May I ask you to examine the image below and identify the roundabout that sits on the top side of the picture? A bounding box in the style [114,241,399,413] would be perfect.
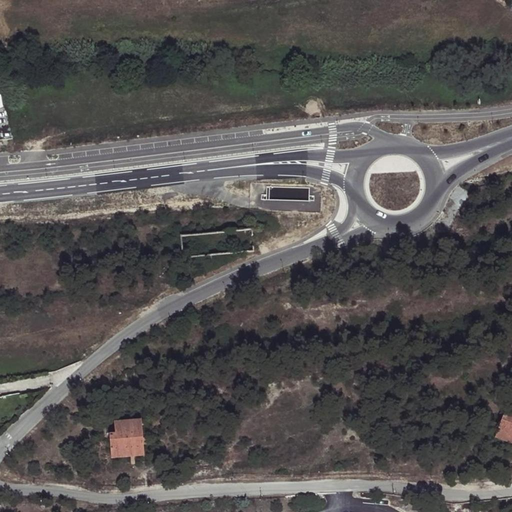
[364,154,426,216]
